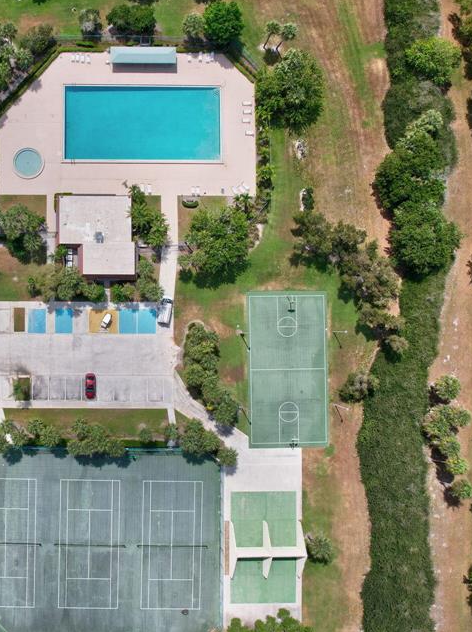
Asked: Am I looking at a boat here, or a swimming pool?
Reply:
swimming pool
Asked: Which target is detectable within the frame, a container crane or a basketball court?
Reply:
basketball court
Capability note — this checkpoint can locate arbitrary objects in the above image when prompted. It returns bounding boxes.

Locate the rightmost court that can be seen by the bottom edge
[230,490,309,604]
